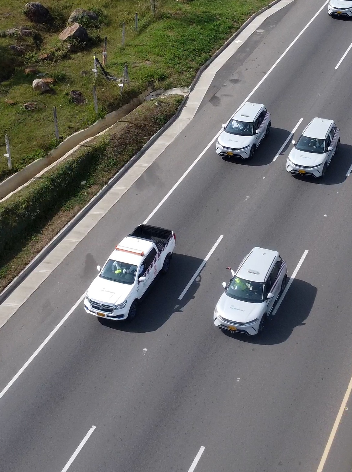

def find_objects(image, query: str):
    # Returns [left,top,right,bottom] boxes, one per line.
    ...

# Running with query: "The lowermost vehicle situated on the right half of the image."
[215,247,287,340]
